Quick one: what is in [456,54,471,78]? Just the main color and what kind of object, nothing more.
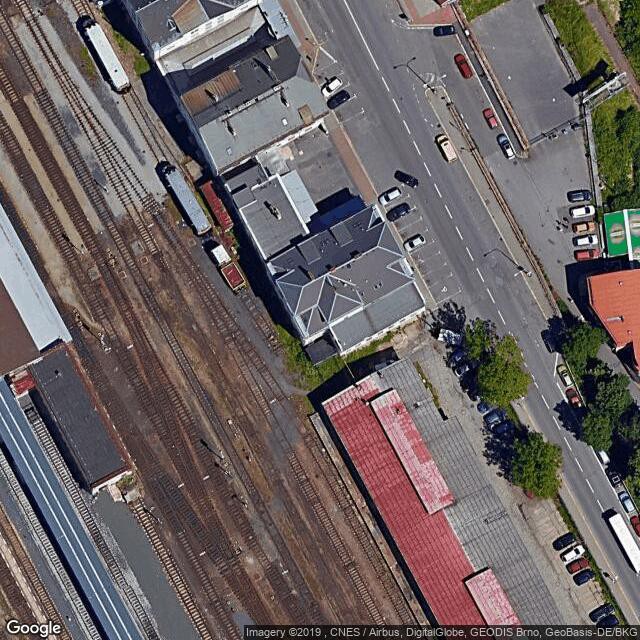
red car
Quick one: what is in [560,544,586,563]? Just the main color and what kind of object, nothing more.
white car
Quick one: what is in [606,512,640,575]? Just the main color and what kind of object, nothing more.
white bus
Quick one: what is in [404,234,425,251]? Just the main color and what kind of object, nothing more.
white car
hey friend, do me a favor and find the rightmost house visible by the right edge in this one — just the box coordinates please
[587,268,640,379]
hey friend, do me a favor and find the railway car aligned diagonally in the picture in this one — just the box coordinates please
[198,182,235,234]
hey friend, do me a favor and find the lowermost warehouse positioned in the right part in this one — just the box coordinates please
[322,358,577,640]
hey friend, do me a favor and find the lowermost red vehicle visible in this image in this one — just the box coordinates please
[568,557,589,574]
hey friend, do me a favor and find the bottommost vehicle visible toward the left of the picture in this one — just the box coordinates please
[209,242,244,293]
